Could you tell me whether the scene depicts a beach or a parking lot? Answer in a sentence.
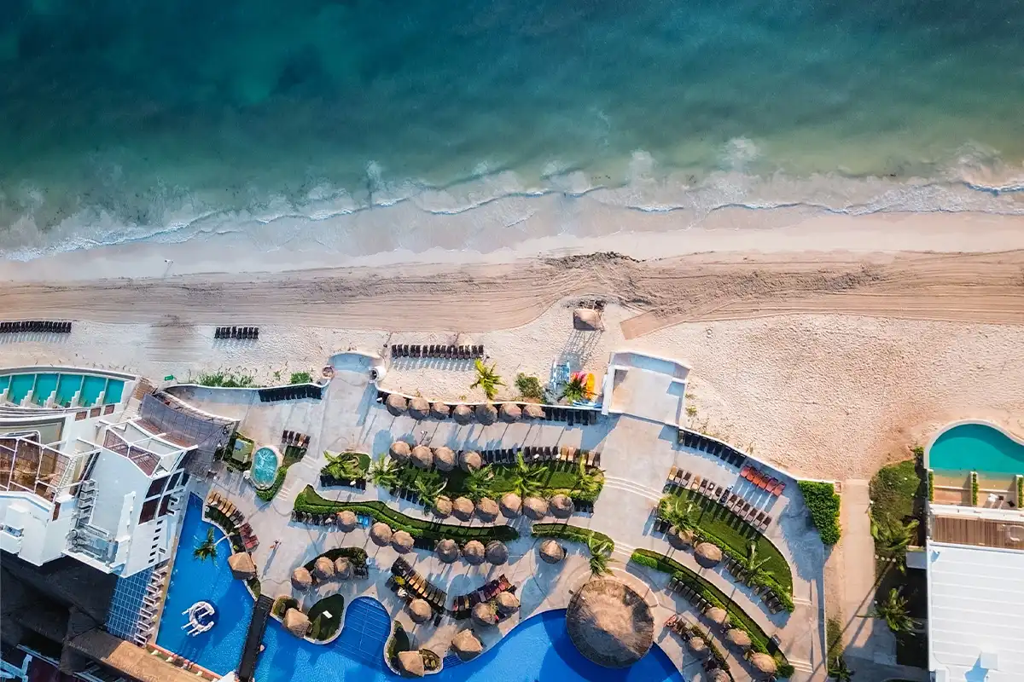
It's a beach.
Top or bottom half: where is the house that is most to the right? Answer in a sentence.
The house that is most to the right sits in the bottom half of the picture.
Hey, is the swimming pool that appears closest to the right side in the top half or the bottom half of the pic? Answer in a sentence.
Seen from above, the swimming pool that appears closest to the right side lies in the bottom half of the view.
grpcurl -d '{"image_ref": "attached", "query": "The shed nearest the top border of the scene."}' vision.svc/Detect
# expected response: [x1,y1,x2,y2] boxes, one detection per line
[573,303,603,331]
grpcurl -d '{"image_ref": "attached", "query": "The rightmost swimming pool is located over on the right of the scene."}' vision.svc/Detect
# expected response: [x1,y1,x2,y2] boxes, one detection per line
[924,419,1024,507]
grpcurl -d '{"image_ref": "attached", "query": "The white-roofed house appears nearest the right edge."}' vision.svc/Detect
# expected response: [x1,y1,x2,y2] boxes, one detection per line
[924,503,1024,682]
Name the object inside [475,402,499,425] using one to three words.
umbrella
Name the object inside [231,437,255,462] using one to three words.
shed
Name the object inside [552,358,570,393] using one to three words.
boat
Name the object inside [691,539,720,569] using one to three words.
umbrella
